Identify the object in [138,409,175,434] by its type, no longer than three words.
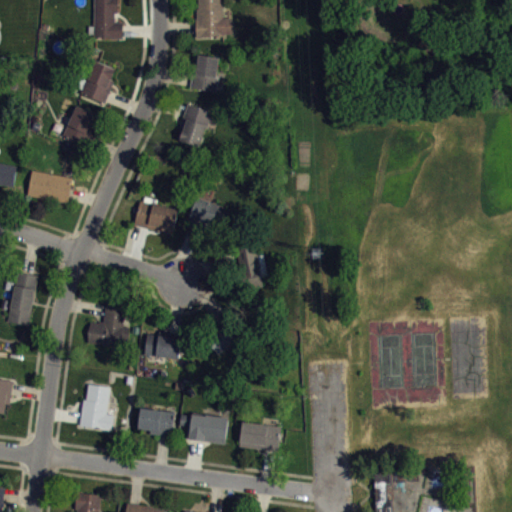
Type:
house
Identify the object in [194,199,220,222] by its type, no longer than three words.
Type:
house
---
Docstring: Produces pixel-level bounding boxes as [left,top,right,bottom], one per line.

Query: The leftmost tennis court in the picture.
[370,321,445,405]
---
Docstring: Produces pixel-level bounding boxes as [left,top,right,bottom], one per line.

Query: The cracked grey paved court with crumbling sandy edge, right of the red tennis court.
[450,315,488,400]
